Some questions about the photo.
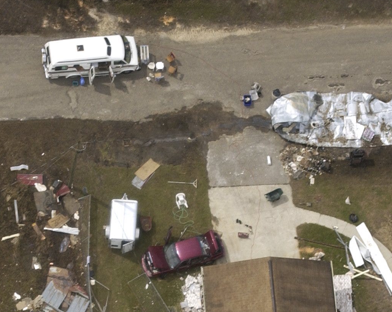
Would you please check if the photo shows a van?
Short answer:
Yes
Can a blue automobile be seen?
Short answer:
No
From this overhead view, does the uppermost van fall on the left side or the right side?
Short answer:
left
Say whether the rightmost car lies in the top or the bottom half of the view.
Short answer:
bottom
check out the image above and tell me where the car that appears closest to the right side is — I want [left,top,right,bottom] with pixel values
[138,228,226,282]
